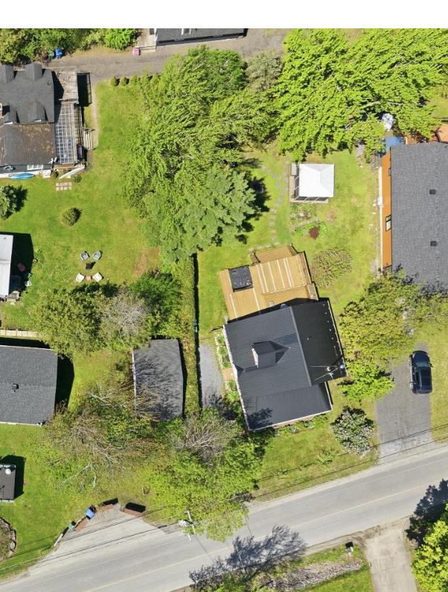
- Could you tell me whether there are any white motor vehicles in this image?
No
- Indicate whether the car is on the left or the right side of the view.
right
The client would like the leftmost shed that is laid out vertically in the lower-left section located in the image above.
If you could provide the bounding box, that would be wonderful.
[0,463,17,502]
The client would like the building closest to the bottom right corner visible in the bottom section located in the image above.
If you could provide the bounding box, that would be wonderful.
[219,299,348,429]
